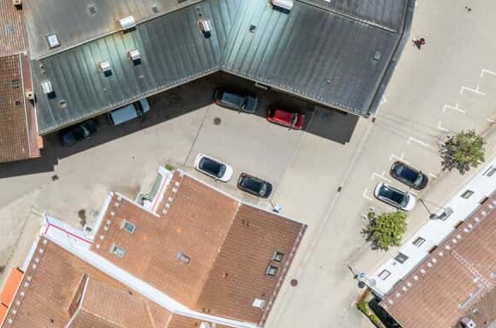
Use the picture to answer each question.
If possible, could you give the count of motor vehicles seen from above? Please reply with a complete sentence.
In total, 8 motor vehicles can be seen.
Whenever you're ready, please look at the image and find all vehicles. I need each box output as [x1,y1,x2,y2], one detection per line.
[189,150,232,181]
[231,169,273,198]
[104,96,151,128]
[57,116,99,146]
[368,179,414,210]
[208,86,257,113]
[262,103,304,130]
[382,158,427,190]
